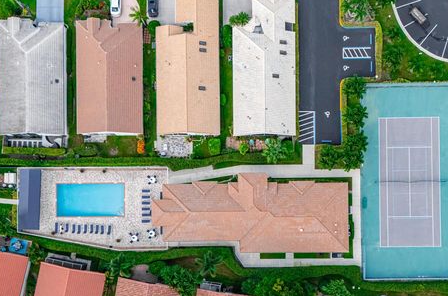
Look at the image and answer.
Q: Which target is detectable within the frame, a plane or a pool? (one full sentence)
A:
I can see a pool in this picture.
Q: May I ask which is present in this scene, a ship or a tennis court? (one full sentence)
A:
Visible in the photo is a tennis court.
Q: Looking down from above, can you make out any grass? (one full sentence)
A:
Yes, grass can be seen from above here.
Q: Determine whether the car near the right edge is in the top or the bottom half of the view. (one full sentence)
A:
The car near the right edge sits in the top half of the picture.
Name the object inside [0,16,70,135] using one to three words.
house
